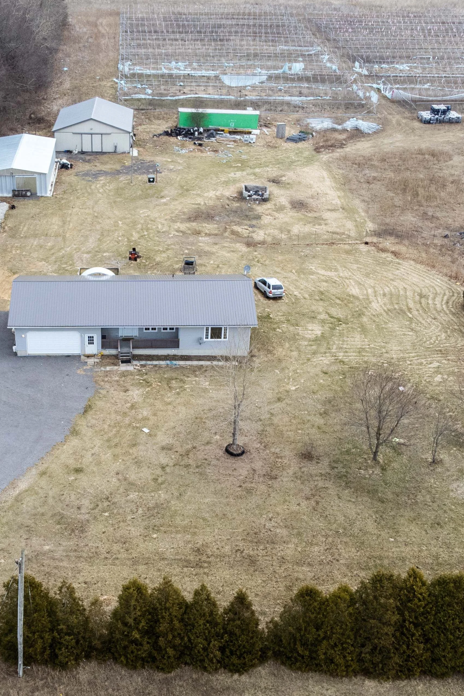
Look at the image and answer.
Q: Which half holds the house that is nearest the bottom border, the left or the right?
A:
left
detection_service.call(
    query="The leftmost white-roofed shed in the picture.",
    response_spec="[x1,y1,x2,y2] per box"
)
[0,133,64,195]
